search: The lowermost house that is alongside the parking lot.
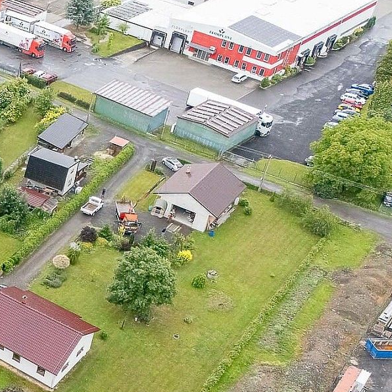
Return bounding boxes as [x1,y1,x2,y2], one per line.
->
[154,163,247,229]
